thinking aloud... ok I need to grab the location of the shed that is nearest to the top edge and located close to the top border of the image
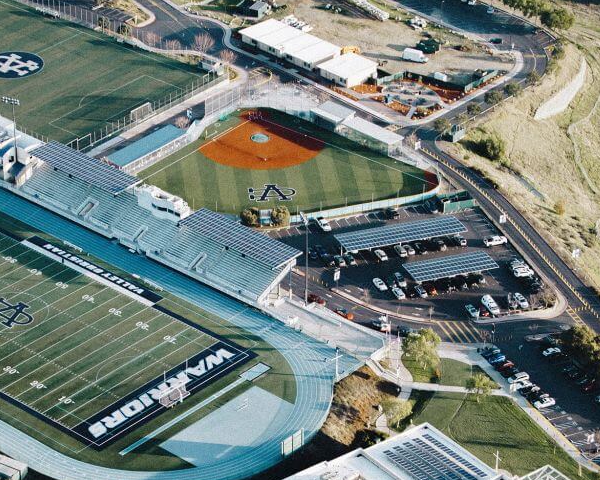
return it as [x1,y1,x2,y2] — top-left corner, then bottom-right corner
[247,0,272,19]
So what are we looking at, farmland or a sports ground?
sports ground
